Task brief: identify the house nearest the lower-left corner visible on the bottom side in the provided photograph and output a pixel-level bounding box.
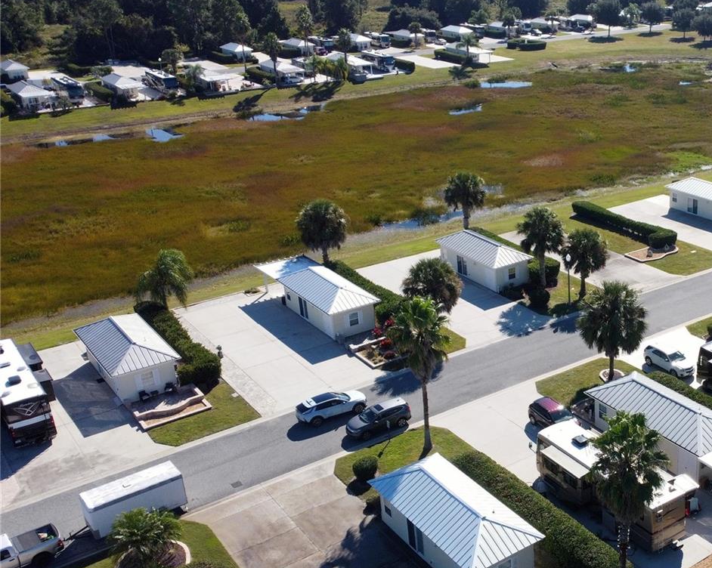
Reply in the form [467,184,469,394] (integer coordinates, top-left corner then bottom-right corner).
[71,313,182,405]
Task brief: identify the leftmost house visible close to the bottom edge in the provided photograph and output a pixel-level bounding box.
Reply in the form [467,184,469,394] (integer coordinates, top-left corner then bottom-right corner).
[367,453,549,568]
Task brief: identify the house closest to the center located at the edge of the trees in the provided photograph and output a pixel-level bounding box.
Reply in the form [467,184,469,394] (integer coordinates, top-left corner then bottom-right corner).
[250,253,384,344]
